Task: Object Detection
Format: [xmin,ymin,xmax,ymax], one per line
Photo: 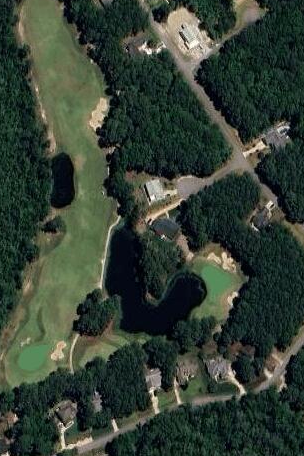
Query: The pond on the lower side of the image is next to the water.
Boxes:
[105,228,206,334]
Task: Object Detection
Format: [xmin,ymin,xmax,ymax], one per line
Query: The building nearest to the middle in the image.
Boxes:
[152,218,178,238]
